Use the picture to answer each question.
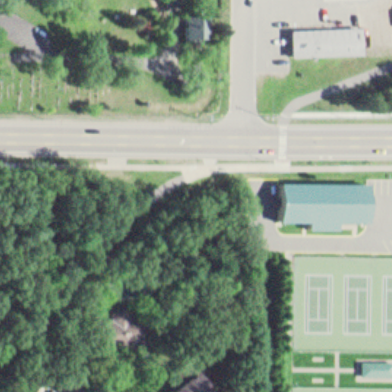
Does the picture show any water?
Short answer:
No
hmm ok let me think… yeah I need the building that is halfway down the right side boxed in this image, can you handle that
[282,184,377,232]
